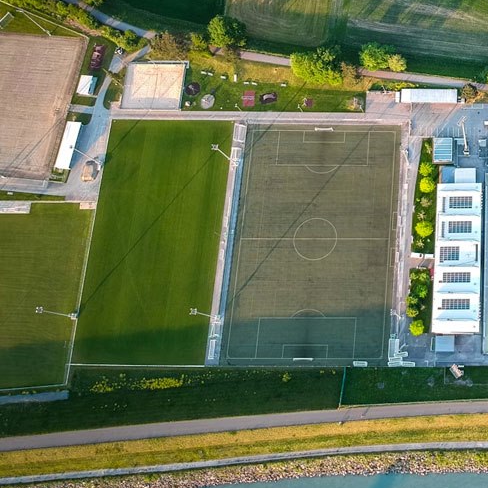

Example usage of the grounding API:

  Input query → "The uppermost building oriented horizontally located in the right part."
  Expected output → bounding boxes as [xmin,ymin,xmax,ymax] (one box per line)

[398,89,458,106]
